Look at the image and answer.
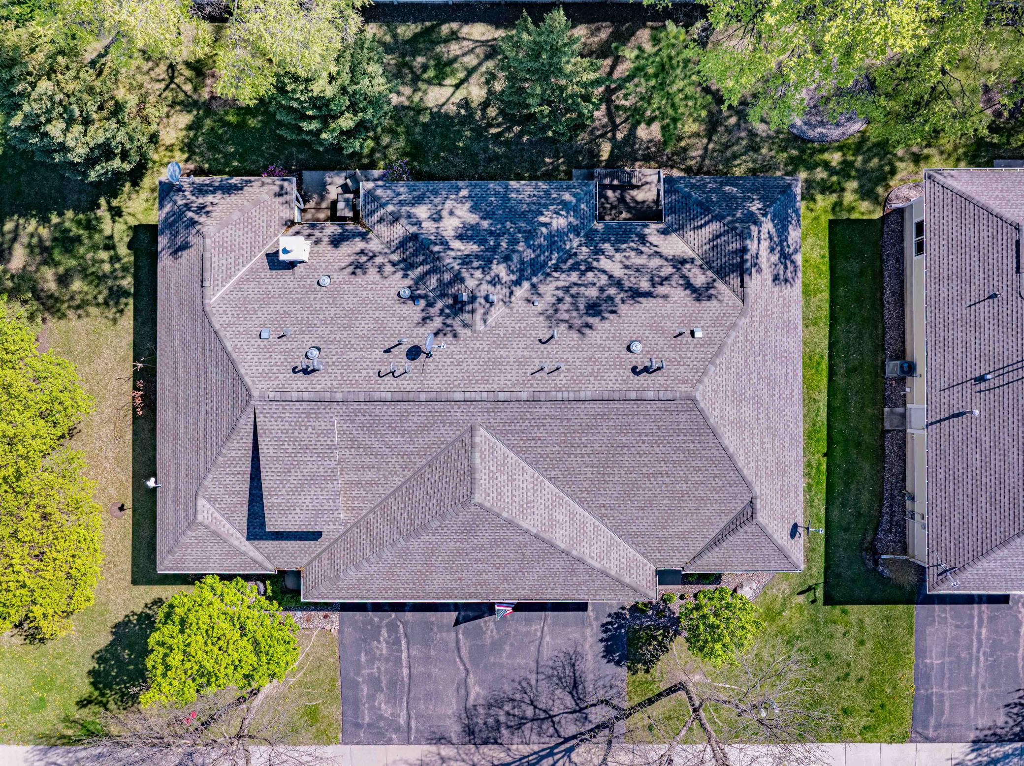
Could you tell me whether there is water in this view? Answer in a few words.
No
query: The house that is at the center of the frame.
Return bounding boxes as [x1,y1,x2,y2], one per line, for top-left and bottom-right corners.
[155,174,804,605]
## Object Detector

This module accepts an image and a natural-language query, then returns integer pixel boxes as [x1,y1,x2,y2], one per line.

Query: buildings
[880,170,1024,596]
[155,174,804,605]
